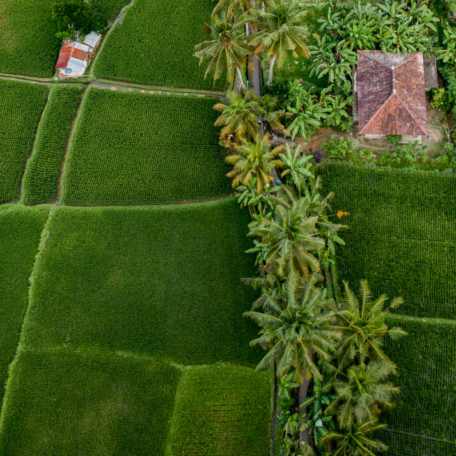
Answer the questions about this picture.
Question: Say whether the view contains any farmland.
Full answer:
Yes, the picture does contain farmland.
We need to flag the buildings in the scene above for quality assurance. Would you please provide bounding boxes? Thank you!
[358,49,427,146]
[56,41,94,85]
